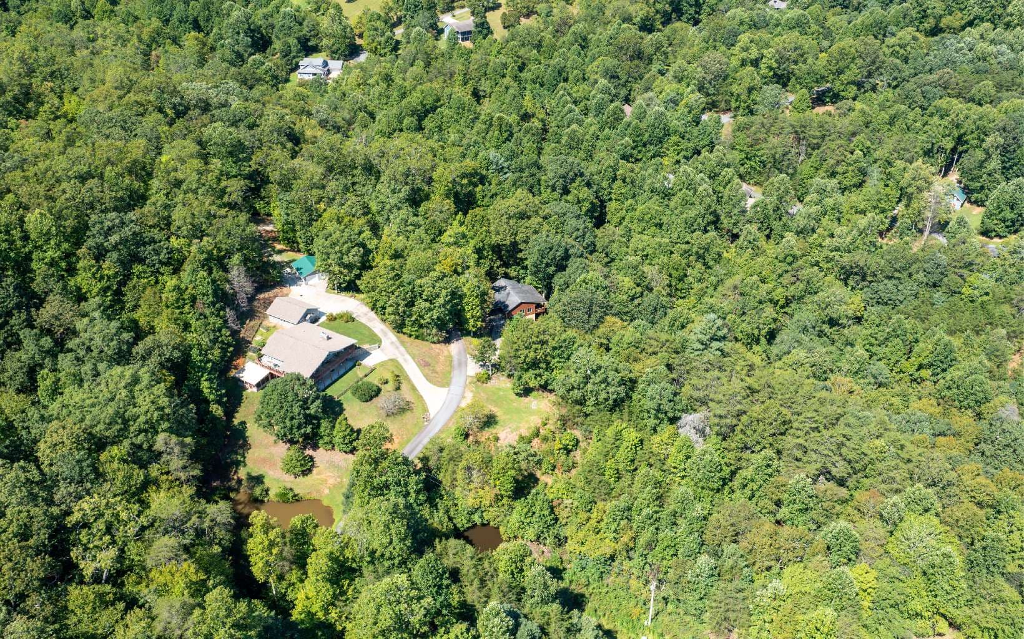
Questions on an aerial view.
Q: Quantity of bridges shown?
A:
none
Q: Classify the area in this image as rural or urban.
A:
rural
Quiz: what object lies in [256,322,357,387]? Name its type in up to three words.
house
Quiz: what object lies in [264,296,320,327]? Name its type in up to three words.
building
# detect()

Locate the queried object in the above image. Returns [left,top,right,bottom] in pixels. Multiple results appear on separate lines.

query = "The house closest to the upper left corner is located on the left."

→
[295,53,348,76]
